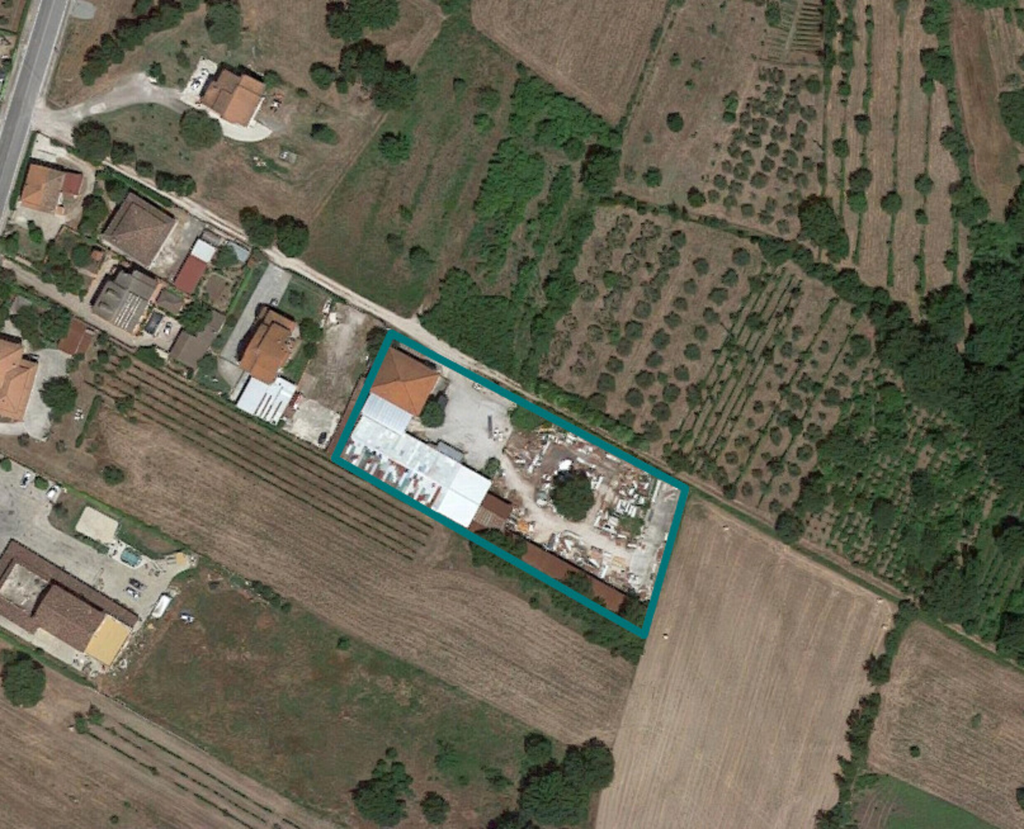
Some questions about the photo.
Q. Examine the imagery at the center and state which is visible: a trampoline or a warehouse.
warehouse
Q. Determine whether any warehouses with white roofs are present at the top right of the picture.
No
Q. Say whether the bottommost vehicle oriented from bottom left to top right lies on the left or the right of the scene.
left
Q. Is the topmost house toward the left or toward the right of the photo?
left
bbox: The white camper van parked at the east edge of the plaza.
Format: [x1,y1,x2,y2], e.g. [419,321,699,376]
[151,593,171,618]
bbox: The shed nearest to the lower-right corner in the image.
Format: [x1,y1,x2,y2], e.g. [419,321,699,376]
[521,542,625,613]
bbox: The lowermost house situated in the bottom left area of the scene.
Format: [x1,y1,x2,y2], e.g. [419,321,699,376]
[0,539,138,667]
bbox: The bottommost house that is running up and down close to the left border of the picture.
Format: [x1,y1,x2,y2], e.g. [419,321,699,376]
[0,339,36,421]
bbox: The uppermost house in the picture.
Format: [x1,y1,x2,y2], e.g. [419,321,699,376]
[200,67,267,130]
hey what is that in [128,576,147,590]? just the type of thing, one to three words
car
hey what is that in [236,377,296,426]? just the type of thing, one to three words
shed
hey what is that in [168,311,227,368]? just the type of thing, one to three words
barn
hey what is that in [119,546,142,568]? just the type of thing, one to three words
swimming pool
